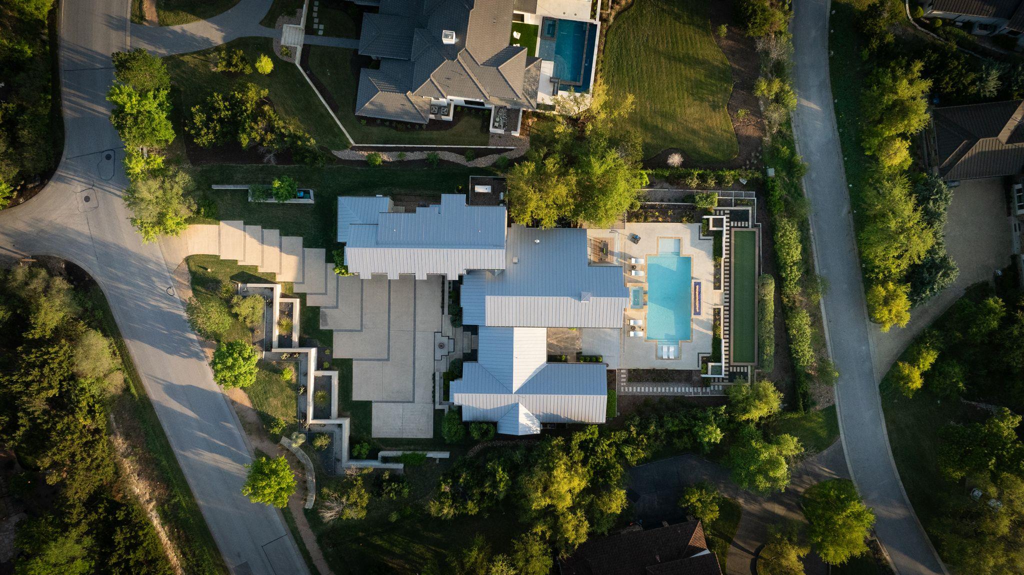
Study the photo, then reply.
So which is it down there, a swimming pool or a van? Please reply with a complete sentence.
There is a swimming pool in the scene.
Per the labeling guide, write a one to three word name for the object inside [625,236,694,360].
swimming pool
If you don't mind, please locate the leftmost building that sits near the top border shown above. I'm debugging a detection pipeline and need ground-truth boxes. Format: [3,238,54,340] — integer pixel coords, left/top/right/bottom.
[355,0,543,128]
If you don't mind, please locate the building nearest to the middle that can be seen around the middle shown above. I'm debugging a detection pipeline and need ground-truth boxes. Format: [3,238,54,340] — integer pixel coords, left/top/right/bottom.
[338,194,629,435]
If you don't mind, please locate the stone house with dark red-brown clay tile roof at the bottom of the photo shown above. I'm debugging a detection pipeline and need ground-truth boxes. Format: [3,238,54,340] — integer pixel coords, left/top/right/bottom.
[560,504,722,575]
